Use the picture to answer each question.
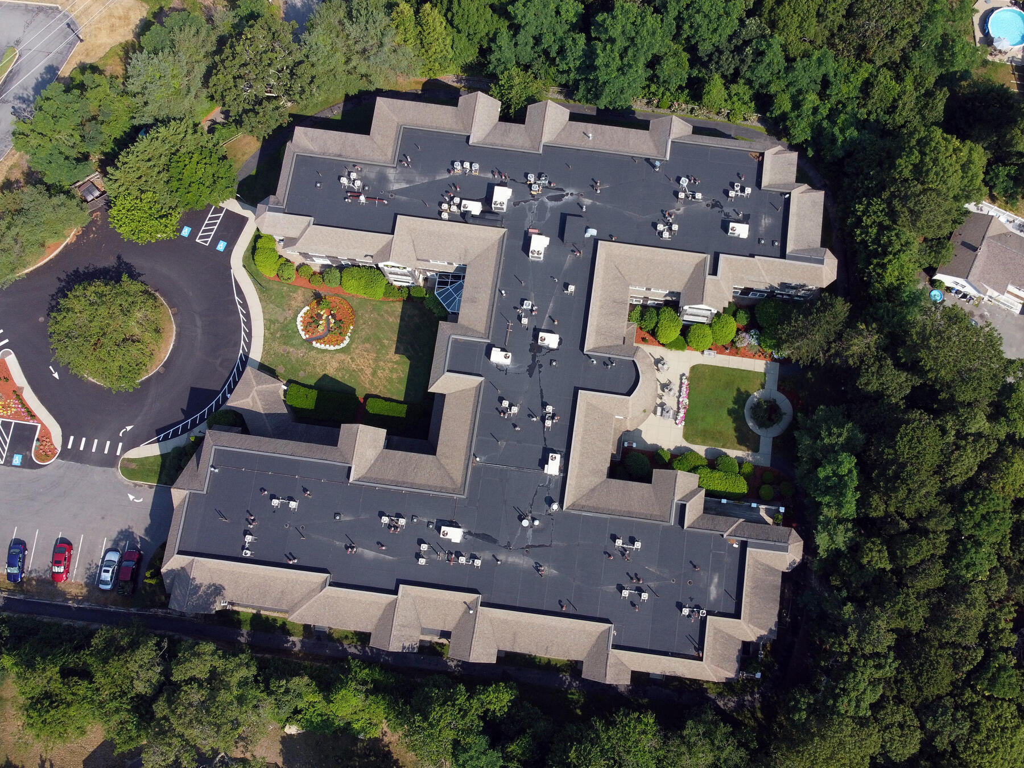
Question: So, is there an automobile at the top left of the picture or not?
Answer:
No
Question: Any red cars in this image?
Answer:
Yes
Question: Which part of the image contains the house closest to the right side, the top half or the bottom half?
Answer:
top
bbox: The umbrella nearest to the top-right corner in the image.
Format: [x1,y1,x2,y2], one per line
[993,37,1009,52]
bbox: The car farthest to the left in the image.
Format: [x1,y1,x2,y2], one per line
[3,543,31,584]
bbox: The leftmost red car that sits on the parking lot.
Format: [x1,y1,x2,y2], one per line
[47,542,73,584]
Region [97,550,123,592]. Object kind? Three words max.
car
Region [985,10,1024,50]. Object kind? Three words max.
swimming pool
